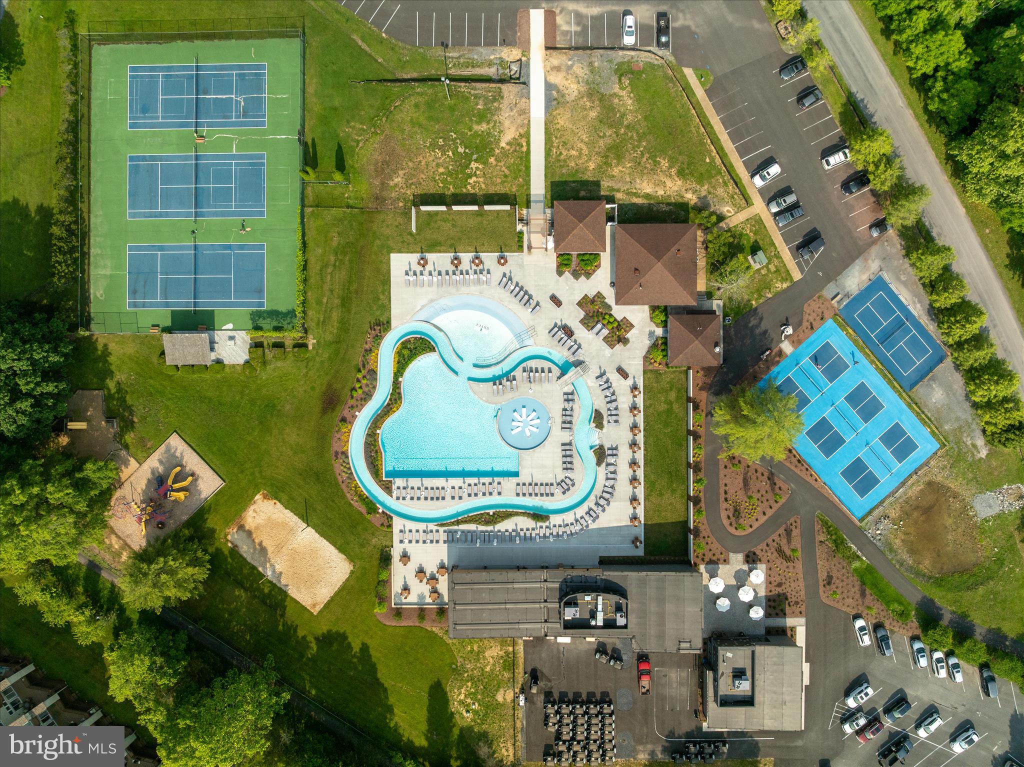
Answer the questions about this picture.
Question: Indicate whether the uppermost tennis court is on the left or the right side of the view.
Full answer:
The uppermost tennis court sits on the left side.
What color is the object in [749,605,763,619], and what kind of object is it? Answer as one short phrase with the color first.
white umbrella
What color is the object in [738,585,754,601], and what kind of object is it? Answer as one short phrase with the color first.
white umbrella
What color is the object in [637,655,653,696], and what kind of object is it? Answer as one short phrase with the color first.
red vehicle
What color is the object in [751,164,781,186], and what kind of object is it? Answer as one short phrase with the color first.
white car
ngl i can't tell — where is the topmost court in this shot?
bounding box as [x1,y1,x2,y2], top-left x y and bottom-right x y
[128,54,267,132]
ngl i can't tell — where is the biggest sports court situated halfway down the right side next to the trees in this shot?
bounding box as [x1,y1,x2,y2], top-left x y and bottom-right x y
[839,275,947,391]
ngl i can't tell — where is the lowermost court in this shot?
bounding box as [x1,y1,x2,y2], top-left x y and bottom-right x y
[226,491,353,614]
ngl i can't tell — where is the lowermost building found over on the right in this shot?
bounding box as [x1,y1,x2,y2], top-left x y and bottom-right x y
[703,632,803,732]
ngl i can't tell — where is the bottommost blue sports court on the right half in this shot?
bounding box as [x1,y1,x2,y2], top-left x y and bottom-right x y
[839,421,920,499]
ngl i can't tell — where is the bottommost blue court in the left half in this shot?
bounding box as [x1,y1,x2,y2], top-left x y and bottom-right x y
[127,236,266,314]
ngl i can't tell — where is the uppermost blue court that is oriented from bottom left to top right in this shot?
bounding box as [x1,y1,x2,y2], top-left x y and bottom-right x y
[770,340,851,416]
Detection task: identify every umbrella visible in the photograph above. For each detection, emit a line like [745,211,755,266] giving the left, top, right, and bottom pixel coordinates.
[749,605,763,619]
[715,596,730,611]
[738,585,754,601]
[749,569,763,583]
[709,577,724,592]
